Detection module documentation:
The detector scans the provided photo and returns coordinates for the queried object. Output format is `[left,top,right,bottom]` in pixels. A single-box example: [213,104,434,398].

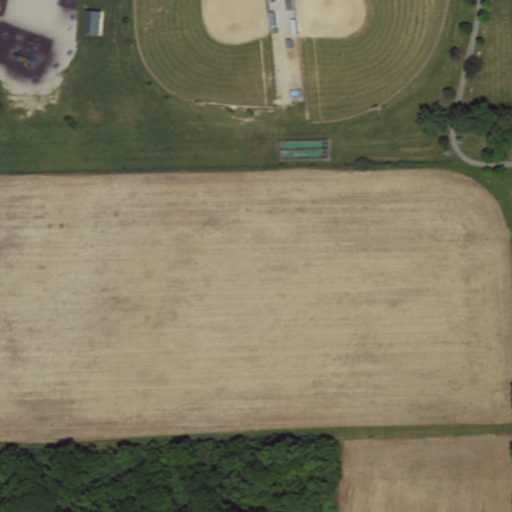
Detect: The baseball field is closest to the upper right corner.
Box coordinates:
[294,0,448,124]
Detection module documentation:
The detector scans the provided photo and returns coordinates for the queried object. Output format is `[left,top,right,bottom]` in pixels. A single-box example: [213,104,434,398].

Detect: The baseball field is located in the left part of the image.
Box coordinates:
[132,0,276,108]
